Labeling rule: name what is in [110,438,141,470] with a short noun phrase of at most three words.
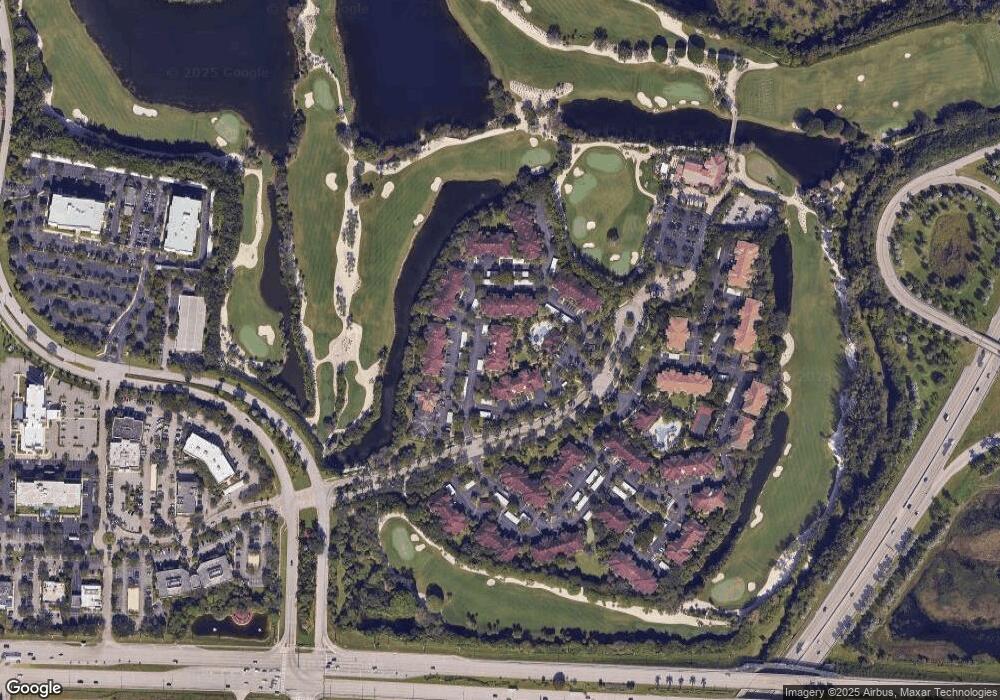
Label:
building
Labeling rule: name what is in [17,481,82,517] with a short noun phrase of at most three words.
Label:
building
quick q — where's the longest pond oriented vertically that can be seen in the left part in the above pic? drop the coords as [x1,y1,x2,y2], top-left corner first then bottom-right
[260,182,306,410]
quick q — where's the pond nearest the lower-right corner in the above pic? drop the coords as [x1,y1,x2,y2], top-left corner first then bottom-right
[886,566,1000,657]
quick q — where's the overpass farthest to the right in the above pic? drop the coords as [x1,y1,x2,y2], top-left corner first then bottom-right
[936,320,1000,356]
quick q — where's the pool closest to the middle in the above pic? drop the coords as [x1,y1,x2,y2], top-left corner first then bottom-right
[530,320,553,348]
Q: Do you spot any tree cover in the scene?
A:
Yes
